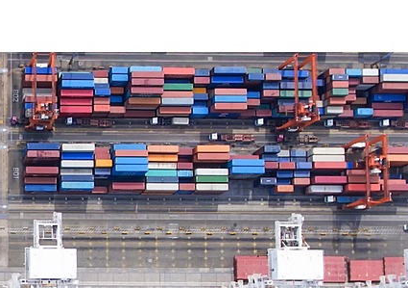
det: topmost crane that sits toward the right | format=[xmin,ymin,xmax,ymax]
[269,54,321,134]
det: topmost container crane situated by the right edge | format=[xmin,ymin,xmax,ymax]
[336,136,390,208]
